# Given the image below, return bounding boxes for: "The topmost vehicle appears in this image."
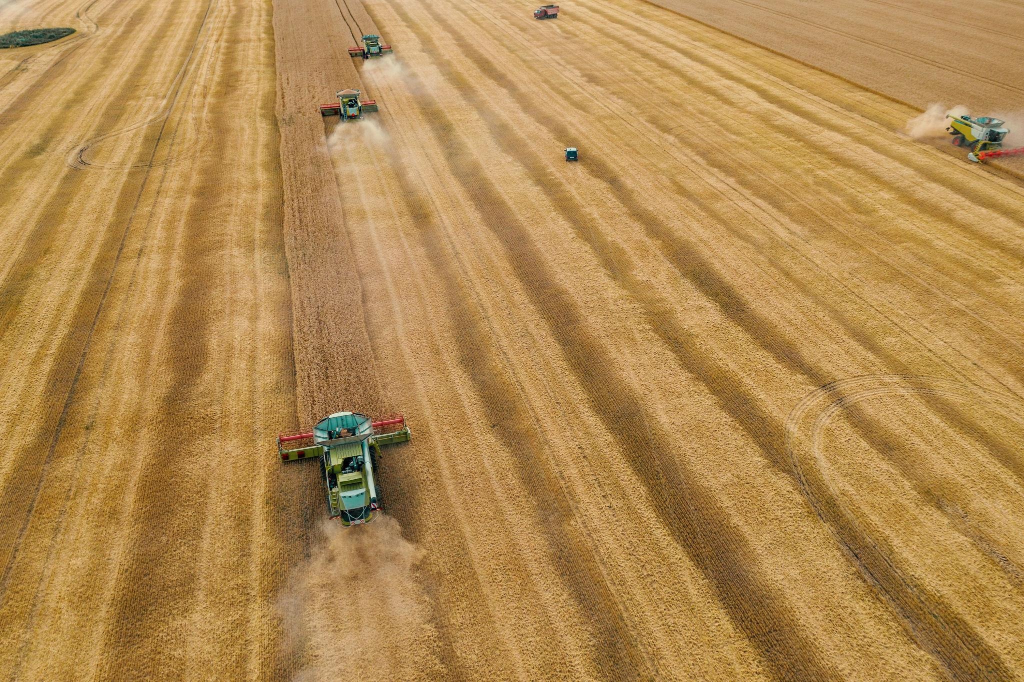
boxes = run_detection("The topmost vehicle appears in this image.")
[534,3,561,19]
